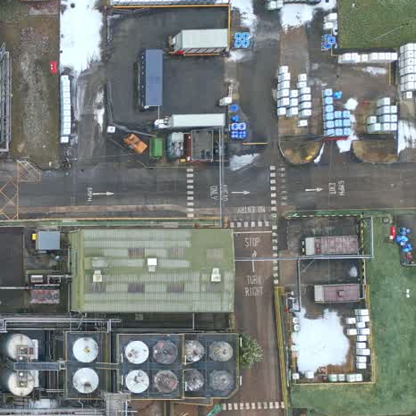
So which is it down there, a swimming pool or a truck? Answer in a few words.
truck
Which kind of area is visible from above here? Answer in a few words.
industrial area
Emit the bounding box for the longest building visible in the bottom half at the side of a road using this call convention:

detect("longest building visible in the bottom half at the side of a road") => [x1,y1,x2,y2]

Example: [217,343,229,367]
[63,228,236,313]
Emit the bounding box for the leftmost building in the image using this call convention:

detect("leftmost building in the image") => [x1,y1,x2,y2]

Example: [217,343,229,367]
[34,231,60,249]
